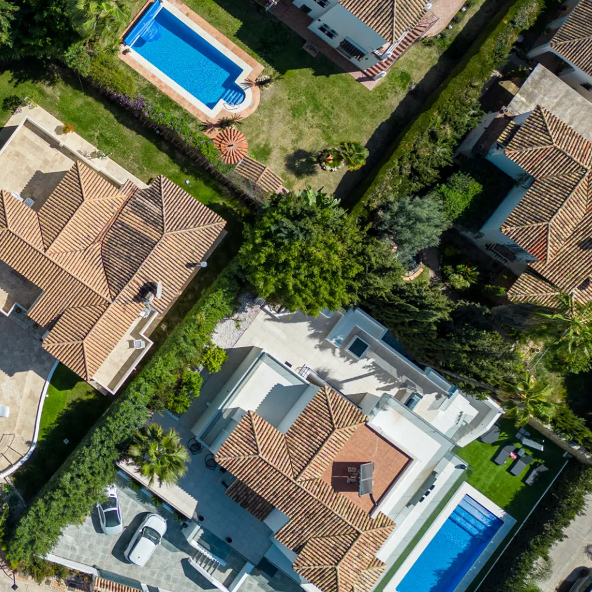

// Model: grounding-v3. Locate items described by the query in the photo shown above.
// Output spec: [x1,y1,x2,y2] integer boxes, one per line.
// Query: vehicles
[564,560,592,592]
[125,510,166,568]
[100,487,125,538]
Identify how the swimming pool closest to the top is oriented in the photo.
diagonally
